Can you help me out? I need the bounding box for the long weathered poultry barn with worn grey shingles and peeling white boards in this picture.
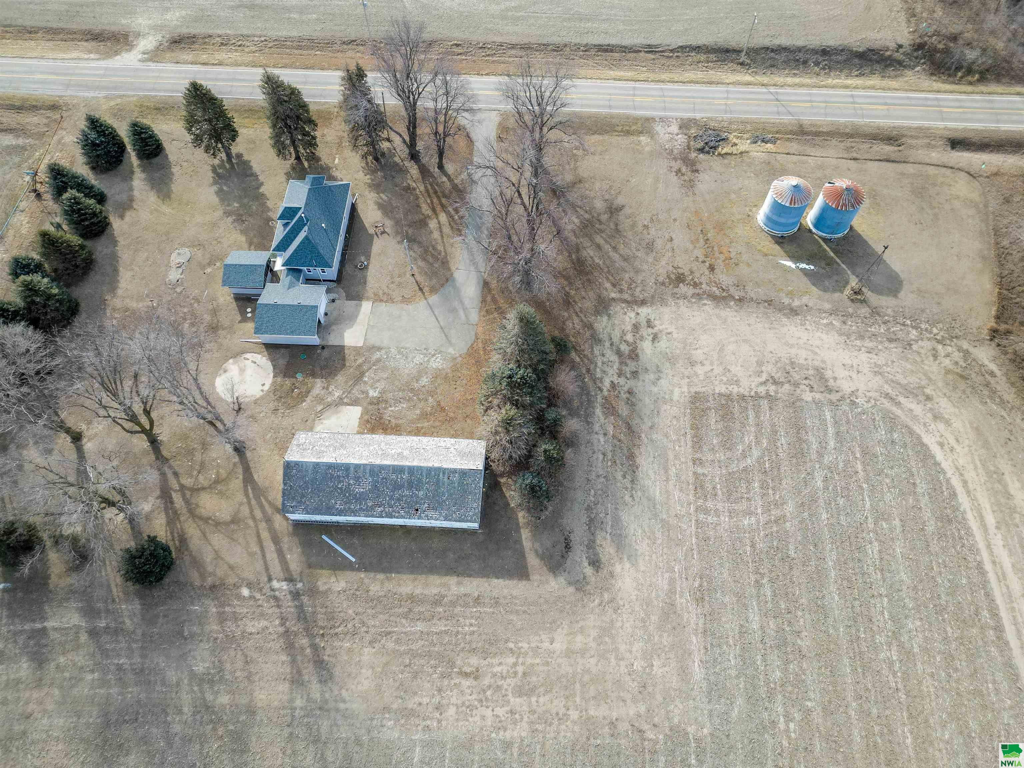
[282,431,486,532]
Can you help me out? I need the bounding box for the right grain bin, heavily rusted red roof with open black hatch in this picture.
[806,179,865,239]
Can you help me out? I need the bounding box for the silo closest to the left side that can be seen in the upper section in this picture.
[757,177,813,236]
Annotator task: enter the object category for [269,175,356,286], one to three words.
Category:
house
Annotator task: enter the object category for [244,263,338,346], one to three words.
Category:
building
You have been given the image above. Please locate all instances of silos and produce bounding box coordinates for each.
[806,179,865,239]
[757,177,813,236]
